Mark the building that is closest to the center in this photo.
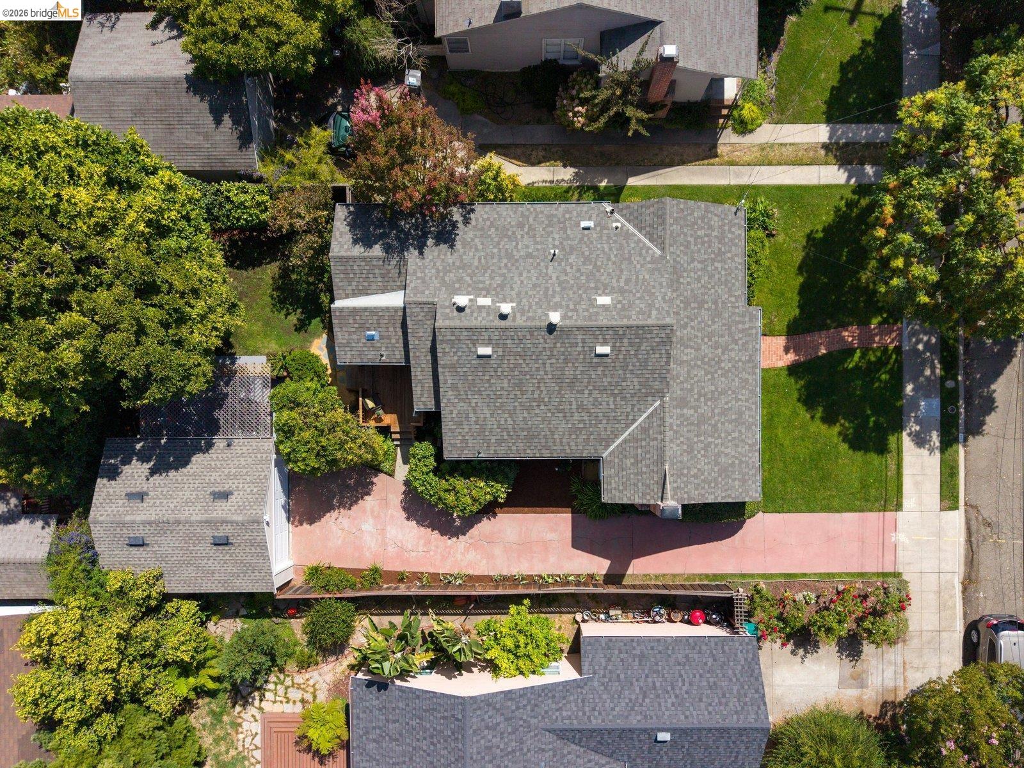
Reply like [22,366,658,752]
[328,196,765,524]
